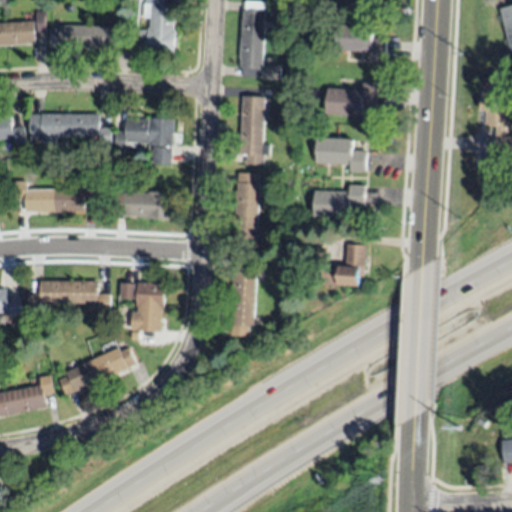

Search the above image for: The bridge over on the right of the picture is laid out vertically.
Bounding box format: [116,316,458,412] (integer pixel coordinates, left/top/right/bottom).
[396,256,440,425]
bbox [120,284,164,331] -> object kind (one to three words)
house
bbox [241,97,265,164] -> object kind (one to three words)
building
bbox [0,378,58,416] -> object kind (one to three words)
house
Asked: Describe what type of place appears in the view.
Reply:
residential area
